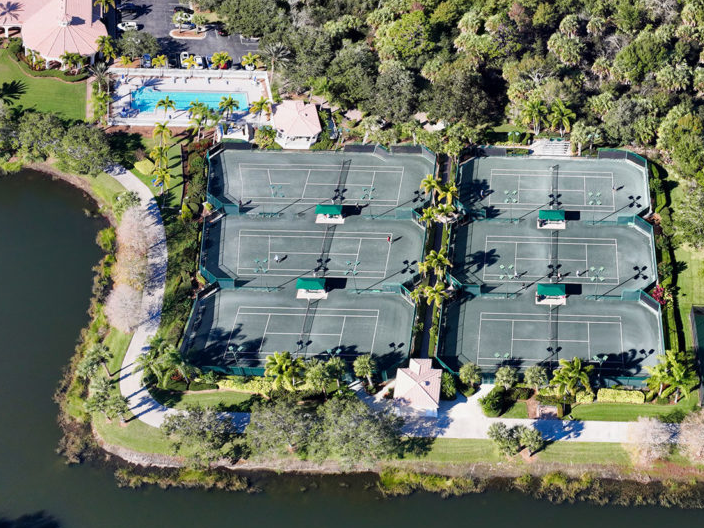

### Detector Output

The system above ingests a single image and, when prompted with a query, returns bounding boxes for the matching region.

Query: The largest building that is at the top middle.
[270,98,323,151]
